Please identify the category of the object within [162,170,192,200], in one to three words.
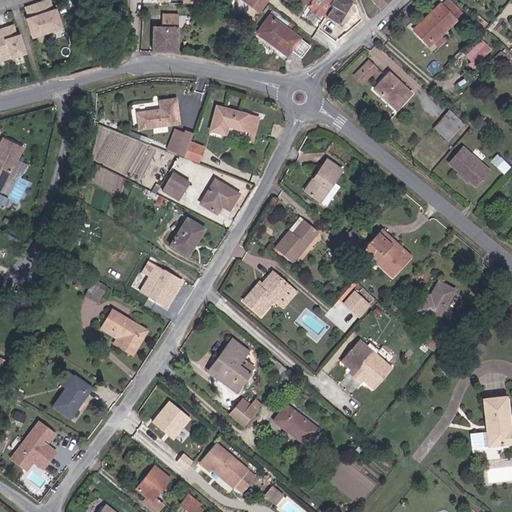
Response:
house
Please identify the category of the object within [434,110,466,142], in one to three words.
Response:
building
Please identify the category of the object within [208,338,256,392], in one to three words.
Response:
house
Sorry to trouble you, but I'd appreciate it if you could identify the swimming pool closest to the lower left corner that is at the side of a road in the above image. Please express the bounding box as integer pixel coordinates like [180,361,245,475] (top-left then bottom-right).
[20,464,54,496]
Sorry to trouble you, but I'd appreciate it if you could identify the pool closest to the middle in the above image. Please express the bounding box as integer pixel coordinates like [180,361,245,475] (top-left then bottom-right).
[294,308,330,344]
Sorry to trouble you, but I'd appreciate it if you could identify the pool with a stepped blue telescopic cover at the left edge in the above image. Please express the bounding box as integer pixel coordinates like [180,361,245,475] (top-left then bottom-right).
[8,178,31,206]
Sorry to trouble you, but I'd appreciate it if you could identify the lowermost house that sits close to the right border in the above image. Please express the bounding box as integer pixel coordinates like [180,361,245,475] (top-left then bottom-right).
[470,396,512,450]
